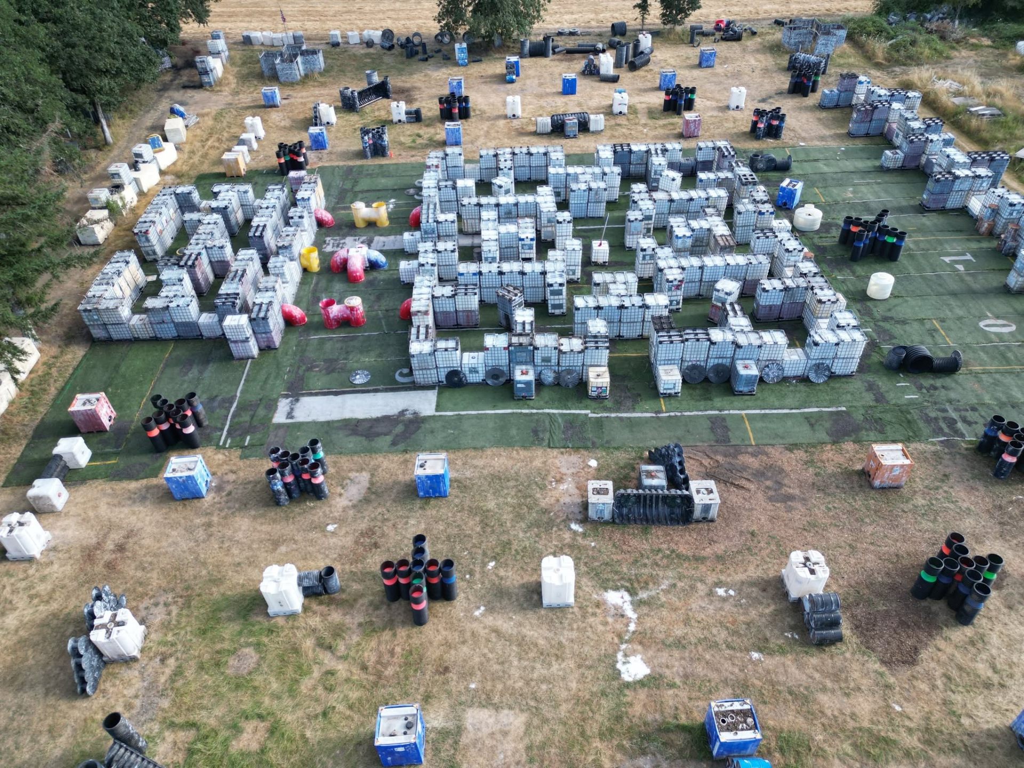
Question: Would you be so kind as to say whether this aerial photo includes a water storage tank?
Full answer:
Yes, this view includes a water storage tank.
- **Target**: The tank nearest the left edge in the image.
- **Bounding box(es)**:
[0,518,48,560]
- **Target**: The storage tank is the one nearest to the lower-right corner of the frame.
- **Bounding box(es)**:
[780,553,826,600]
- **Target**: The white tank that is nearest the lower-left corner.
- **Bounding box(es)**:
[96,614,146,663]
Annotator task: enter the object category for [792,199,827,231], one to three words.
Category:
water tank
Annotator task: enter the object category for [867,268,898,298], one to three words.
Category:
water tank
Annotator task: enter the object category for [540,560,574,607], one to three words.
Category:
storage tank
